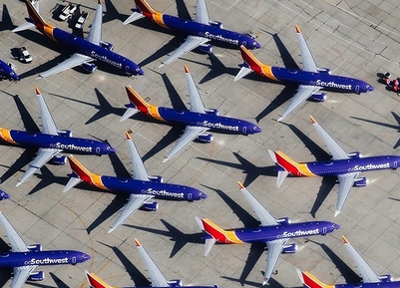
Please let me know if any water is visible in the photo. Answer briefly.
No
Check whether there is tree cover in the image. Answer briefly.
No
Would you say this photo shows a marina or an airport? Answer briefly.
airport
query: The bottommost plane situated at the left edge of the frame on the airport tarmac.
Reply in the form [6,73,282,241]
[0,210,90,288]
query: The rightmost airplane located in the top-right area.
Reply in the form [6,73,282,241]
[233,25,374,121]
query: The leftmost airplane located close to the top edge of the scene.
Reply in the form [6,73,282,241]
[11,0,144,80]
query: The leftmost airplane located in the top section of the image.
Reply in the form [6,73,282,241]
[0,61,18,80]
